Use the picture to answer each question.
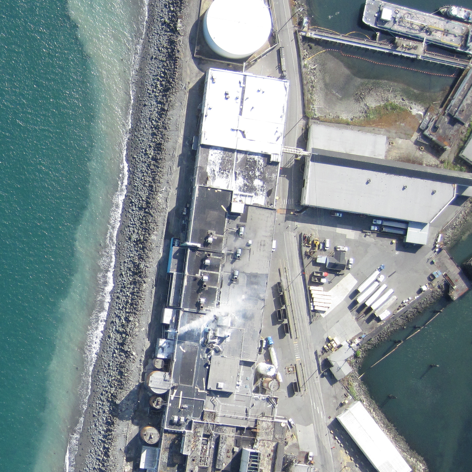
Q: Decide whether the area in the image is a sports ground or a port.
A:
port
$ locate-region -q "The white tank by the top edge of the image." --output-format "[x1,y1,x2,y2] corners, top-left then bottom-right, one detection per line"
[203,0,272,59]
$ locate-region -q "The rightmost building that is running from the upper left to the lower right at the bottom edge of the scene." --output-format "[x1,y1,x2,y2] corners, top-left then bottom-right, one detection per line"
[337,401,412,472]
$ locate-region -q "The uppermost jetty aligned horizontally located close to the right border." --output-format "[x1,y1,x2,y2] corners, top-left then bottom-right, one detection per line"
[300,27,469,70]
